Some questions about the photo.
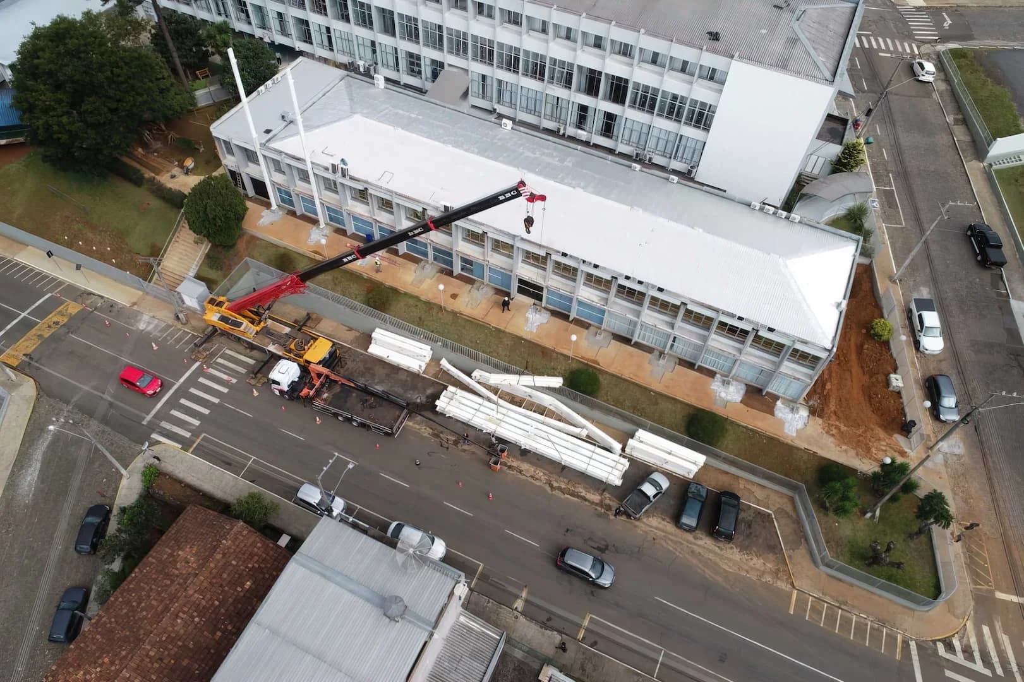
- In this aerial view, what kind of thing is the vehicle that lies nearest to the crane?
truck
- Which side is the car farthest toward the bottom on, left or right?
left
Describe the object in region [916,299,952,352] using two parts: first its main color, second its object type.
white truck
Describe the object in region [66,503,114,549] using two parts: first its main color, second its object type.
black car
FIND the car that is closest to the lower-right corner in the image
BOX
[927,376,968,419]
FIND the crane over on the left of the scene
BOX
[191,179,546,387]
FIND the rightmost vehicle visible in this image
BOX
[974,222,1014,263]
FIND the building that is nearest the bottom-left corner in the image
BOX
[43,503,290,682]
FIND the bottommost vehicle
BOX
[40,588,88,635]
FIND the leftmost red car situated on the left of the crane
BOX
[111,362,163,399]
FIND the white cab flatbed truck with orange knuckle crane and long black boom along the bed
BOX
[260,347,510,476]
